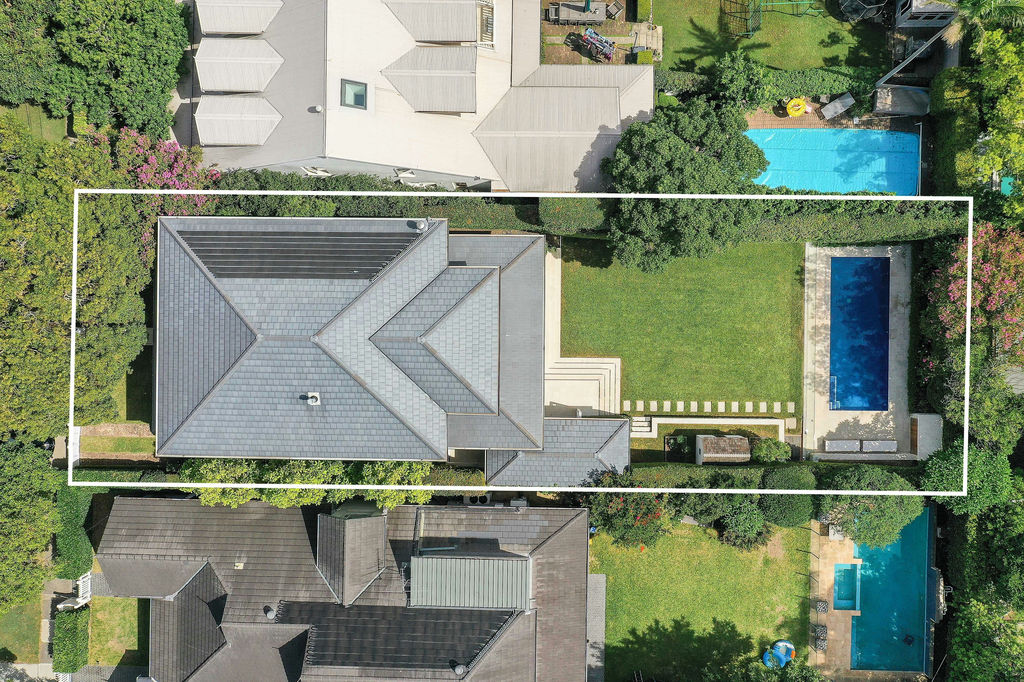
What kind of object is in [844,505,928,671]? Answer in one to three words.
swimming pool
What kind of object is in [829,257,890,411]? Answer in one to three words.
swimming pool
